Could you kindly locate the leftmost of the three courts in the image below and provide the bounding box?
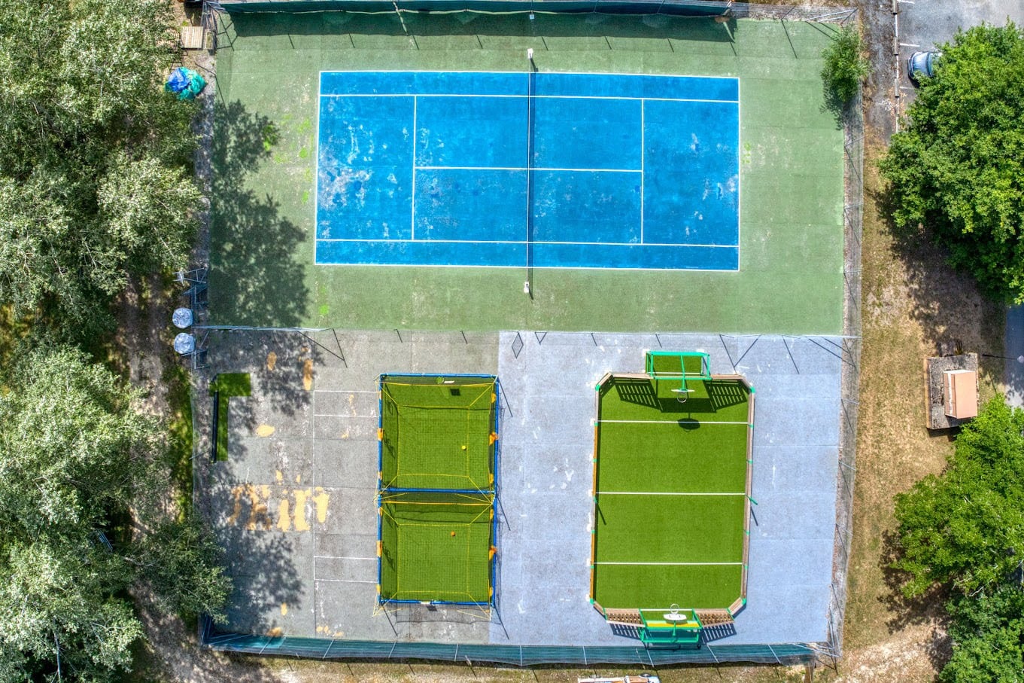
[205,329,499,646]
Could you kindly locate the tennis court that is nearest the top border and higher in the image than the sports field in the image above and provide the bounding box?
[208,6,844,336]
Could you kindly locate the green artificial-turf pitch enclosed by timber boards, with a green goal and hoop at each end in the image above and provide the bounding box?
[586,348,760,645]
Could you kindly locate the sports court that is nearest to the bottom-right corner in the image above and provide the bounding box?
[493,332,843,647]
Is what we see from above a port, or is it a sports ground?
sports ground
